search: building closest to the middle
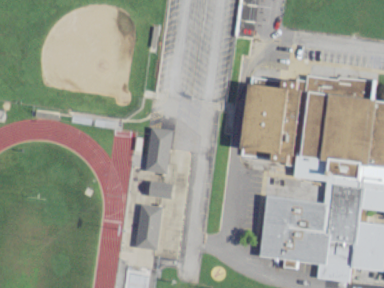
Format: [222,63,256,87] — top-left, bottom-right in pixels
[145,128,174,172]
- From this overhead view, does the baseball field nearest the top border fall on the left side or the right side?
left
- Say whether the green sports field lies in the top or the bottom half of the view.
bottom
